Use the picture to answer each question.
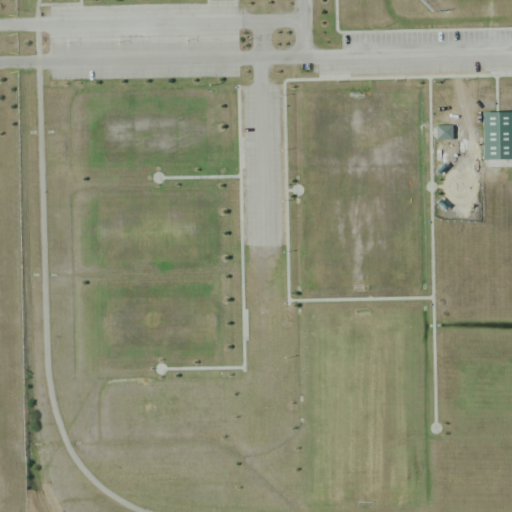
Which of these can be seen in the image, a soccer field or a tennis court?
soccer field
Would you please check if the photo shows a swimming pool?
No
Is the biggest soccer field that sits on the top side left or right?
right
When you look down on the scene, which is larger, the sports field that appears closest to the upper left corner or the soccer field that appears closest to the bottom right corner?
the soccer field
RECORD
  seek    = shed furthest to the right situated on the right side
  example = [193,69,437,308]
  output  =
[484,110,512,158]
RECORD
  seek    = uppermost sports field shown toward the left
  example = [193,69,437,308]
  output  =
[88,92,222,172]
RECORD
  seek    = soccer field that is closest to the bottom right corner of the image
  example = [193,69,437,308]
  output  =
[304,306,422,506]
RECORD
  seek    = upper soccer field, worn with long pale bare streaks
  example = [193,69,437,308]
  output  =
[302,86,418,292]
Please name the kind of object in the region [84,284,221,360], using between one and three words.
sports field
